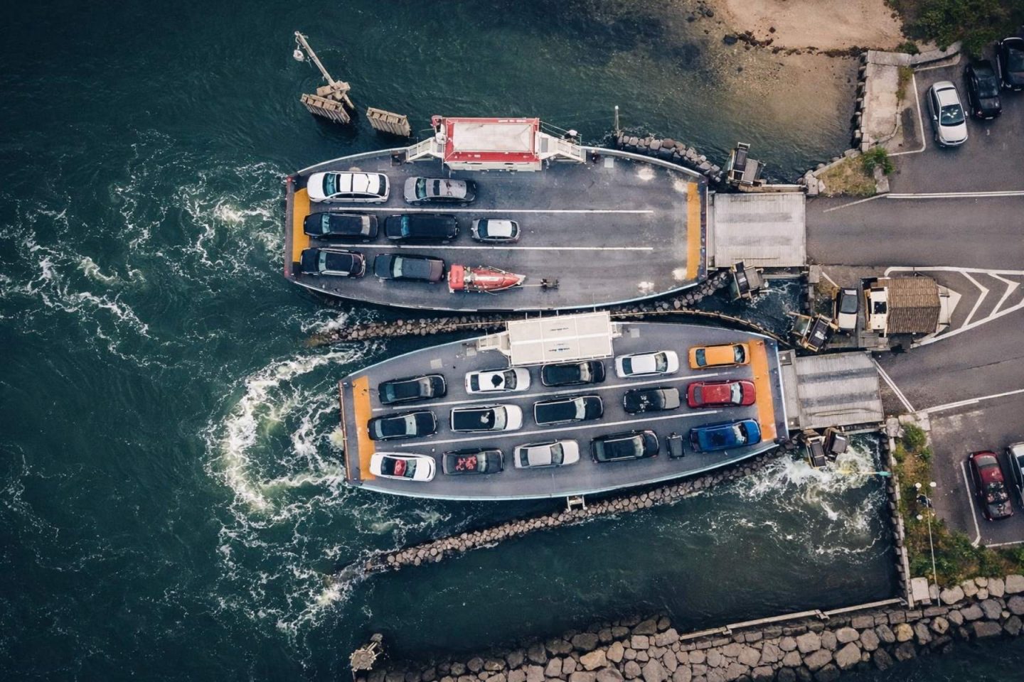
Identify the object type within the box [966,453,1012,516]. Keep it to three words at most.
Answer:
car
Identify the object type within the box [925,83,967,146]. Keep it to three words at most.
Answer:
car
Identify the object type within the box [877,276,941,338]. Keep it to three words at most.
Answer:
shed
